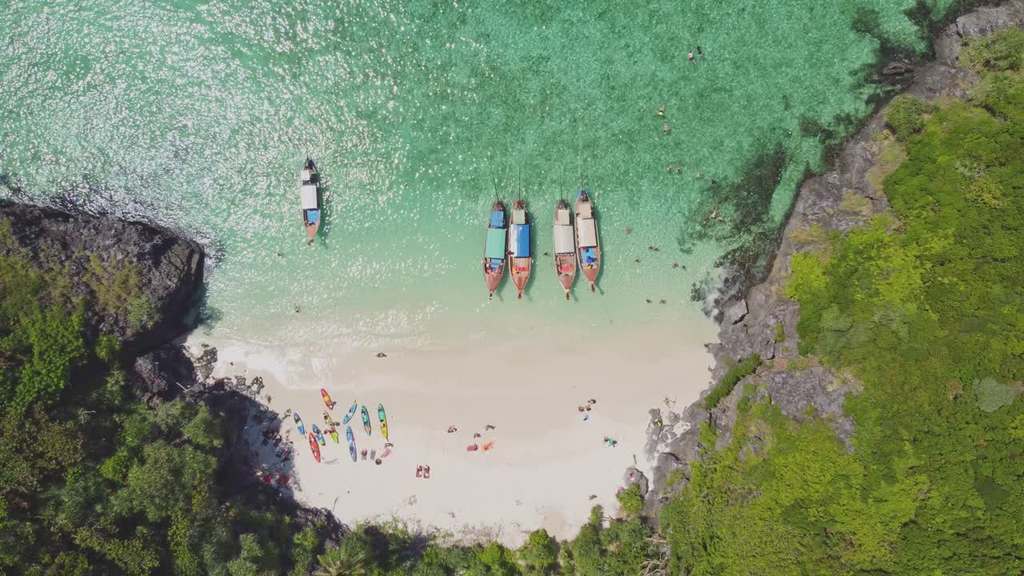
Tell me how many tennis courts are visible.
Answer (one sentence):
No tennis courts are visible.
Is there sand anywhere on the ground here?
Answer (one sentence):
Yes, there is sand in the image.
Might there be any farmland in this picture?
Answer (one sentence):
No, no farmland is visible.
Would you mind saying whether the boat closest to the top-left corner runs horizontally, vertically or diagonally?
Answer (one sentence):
From this overhead view, the boat closest to the top-left corner appears to run vertically.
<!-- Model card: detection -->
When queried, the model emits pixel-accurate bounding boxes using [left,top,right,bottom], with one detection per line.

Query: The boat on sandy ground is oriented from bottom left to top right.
[342,405,355,425]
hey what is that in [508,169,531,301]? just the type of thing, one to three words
boat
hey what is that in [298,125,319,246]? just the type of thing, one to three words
boat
